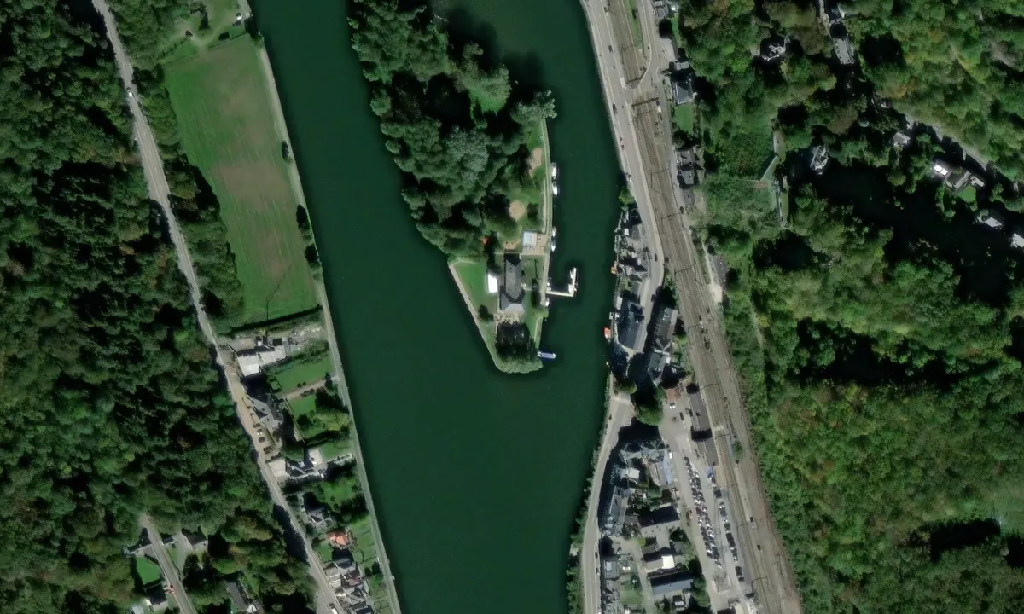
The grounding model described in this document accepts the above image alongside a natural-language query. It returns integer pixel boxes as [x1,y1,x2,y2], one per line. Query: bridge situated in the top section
[620,56,666,107]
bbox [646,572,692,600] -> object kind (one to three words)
building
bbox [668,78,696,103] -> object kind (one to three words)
house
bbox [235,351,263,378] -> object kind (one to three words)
barn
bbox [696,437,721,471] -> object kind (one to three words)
building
